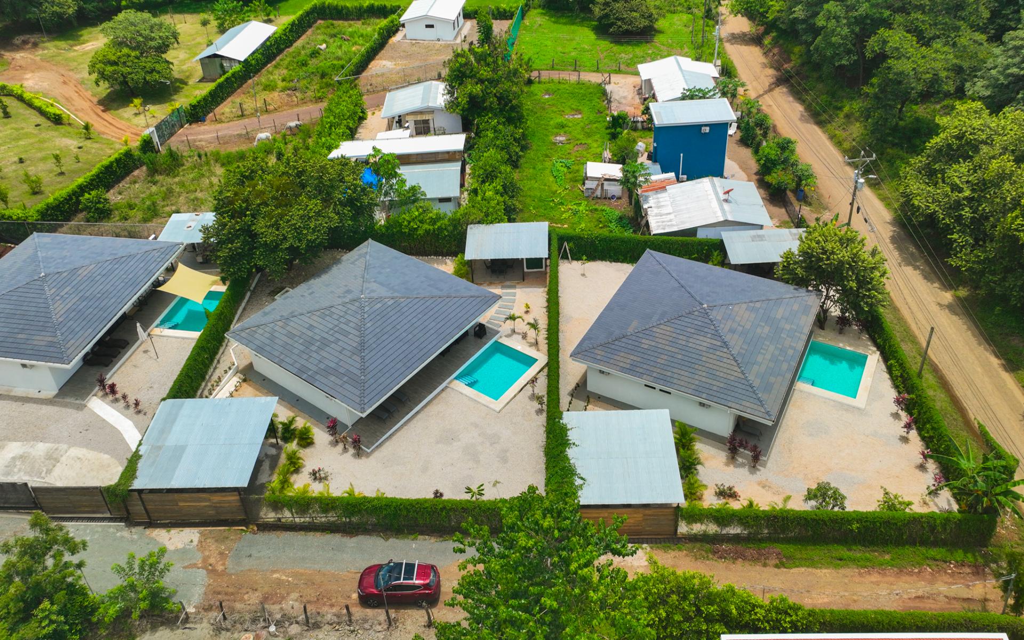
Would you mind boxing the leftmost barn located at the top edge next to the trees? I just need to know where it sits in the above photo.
[193,20,278,81]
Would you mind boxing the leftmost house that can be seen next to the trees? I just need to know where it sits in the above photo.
[0,228,183,403]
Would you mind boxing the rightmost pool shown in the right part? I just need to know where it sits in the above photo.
[798,334,878,408]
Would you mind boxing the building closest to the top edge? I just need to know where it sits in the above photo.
[399,0,465,38]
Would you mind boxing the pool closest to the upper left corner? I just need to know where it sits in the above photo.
[150,285,234,338]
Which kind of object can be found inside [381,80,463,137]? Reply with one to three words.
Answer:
house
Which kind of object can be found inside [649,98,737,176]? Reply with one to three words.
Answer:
building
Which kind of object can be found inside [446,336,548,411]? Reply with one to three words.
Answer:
swimming pool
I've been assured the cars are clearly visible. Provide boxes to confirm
[356,559,440,605]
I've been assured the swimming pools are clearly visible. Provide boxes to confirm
[150,285,234,338]
[446,336,548,411]
[798,334,878,408]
